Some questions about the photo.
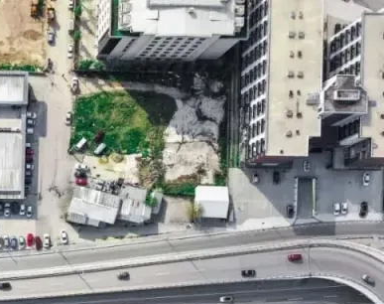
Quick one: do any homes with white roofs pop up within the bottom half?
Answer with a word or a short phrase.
Yes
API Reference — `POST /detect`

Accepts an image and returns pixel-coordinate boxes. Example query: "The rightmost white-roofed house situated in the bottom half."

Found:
[191,186,230,217]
